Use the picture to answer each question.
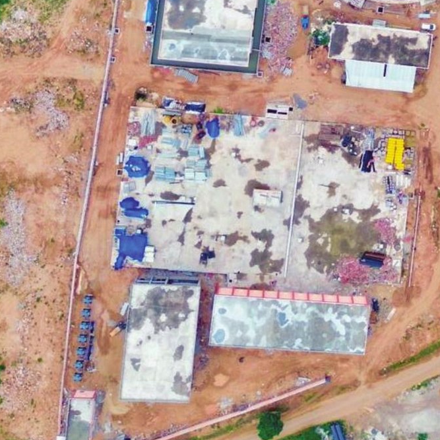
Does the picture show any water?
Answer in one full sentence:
Yes, water shows up in the scene.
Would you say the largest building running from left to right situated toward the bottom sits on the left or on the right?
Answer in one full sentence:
The largest building running from left to right situated toward the bottom is on the right side of the image.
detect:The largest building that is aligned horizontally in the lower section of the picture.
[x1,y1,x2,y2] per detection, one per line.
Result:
[208,279,373,355]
